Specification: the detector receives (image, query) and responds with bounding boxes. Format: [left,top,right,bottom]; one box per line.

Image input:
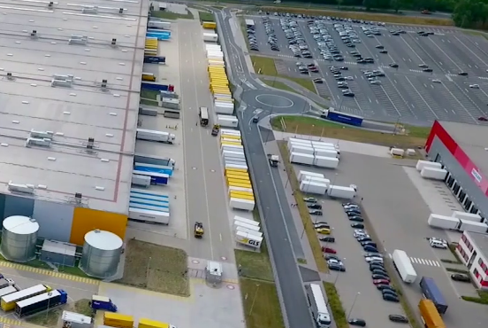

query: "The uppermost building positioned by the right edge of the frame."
[425,126,488,235]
